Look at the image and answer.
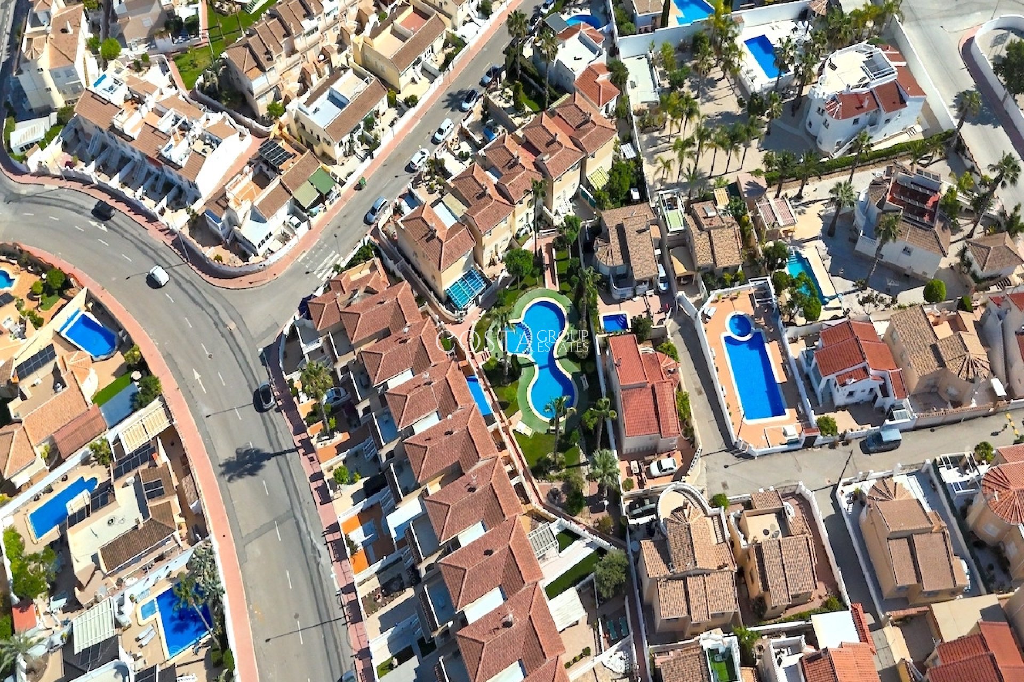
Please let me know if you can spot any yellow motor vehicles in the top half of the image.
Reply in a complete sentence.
No, looking in the top half of the image, there is no yellow motor vehicle.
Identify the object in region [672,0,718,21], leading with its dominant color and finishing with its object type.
blue swimming pool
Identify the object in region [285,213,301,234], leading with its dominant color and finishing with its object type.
white car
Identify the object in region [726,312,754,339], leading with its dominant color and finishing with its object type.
blue swimming pool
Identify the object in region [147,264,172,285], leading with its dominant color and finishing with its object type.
white car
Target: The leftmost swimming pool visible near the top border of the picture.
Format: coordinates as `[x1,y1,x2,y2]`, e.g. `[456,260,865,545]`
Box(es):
[563,12,602,30]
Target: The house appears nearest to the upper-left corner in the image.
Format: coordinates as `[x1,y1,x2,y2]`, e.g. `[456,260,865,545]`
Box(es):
[20,0,94,105]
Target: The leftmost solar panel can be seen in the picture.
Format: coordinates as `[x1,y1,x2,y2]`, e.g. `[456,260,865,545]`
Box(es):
[15,344,57,379]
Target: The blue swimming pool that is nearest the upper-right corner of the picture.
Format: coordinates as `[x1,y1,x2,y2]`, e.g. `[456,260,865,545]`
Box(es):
[740,30,795,81]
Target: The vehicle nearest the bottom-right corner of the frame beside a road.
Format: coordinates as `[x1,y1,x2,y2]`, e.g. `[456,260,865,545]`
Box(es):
[864,424,906,450]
